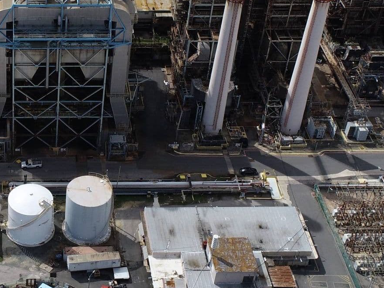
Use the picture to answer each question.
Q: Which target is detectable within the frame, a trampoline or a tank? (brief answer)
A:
tank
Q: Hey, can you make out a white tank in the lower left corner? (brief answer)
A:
Yes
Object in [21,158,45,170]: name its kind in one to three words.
vehicle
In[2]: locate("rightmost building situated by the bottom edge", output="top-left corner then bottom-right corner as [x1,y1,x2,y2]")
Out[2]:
[146,207,322,288]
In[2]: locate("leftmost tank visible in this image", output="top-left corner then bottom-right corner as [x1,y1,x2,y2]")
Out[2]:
[4,185,55,246]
